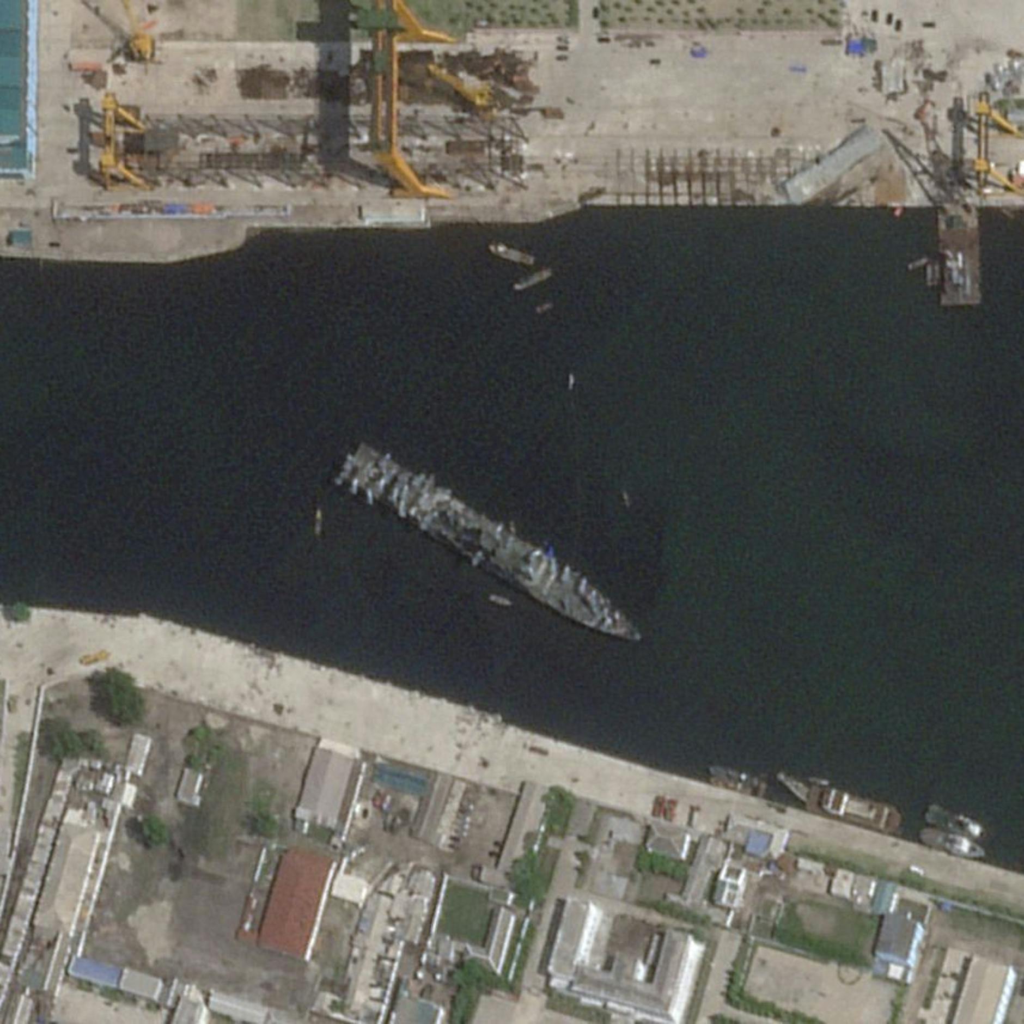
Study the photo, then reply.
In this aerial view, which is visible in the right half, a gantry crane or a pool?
gantry crane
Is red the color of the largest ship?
No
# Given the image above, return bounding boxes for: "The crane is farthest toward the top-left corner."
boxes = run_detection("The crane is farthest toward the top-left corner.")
[126,0,165,65]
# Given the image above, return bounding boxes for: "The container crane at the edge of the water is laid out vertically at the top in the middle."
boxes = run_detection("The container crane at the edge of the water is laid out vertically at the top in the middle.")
[359,0,456,201]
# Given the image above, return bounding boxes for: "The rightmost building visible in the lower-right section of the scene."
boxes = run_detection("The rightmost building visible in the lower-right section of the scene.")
[950,954,1013,1024]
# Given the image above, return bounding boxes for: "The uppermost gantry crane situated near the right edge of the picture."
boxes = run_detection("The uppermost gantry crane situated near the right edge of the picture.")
[971,90,1024,194]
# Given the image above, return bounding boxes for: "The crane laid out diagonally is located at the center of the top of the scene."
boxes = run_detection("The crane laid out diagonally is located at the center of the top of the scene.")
[427,64,505,116]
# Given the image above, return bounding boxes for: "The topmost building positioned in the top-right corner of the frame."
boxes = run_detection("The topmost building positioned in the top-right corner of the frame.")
[882,60,905,93]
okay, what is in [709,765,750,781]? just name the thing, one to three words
boat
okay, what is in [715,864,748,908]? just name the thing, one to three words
house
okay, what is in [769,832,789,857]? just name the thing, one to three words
building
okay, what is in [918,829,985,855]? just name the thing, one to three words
boat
